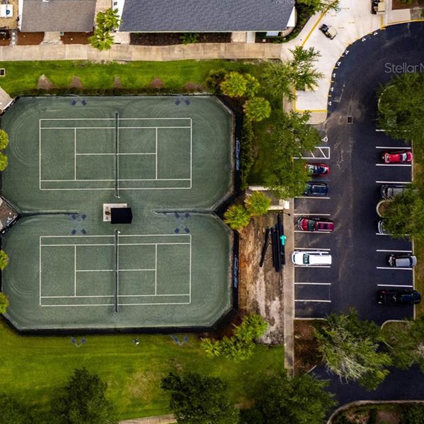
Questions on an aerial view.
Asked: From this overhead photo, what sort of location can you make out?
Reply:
sports ground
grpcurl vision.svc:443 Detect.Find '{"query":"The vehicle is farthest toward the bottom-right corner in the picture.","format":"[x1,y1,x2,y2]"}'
[382,292,423,308]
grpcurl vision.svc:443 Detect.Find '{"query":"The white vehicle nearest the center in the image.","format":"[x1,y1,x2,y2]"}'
[295,252,335,268]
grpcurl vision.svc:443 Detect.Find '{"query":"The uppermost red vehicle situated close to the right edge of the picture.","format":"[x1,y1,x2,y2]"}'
[384,151,416,165]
